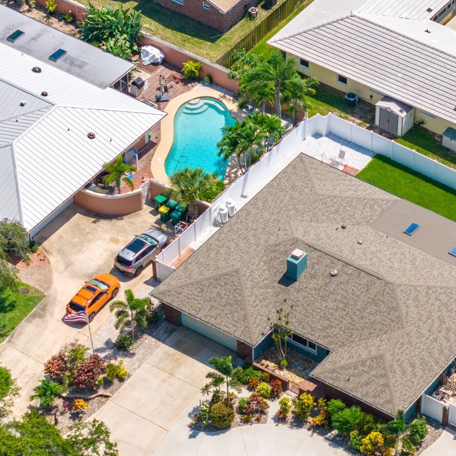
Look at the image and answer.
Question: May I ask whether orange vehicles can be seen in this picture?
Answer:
Yes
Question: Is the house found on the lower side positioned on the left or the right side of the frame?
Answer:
right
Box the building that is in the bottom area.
[150,152,456,444]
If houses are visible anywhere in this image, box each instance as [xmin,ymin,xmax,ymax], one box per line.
[0,2,168,248]
[150,152,456,444]
[153,0,262,34]
[268,0,456,142]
